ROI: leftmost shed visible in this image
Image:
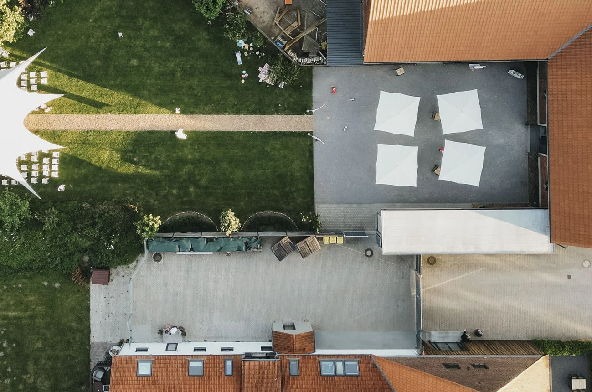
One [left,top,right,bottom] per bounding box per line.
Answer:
[91,266,111,284]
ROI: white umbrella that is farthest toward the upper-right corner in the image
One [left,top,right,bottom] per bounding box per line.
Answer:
[436,89,483,135]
